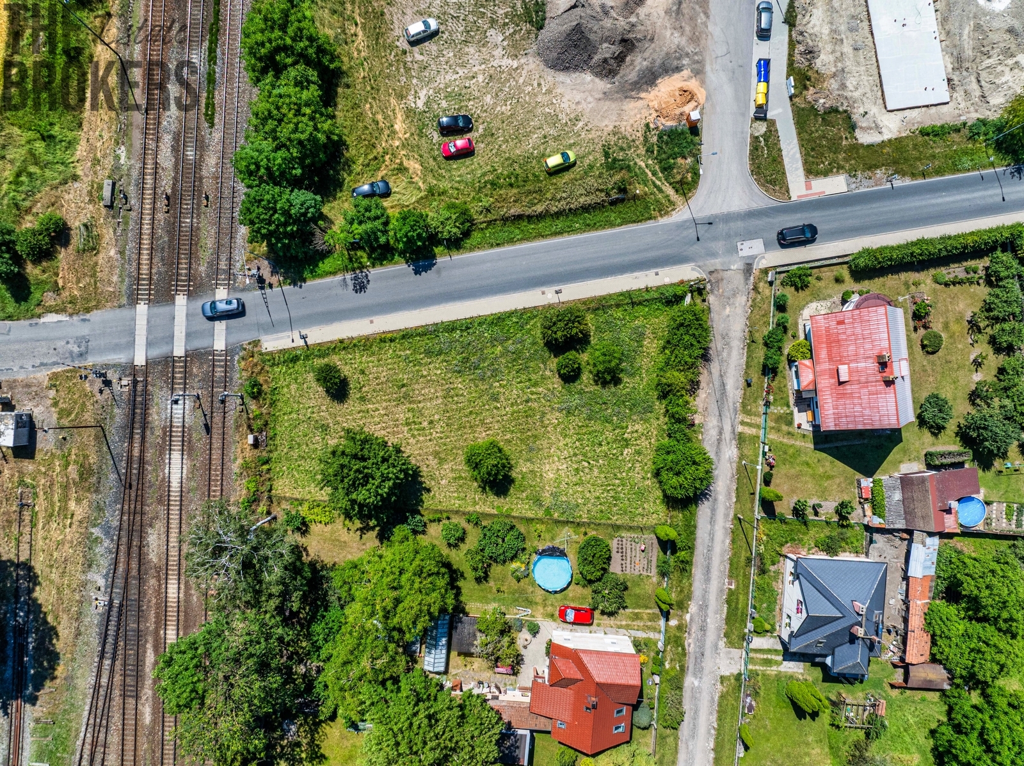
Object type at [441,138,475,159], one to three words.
car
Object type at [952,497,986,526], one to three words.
swimming pool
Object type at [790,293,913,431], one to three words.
house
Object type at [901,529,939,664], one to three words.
shed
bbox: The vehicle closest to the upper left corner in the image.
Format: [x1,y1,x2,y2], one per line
[203,299,245,317]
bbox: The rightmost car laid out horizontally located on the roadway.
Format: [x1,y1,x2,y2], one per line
[776,224,817,246]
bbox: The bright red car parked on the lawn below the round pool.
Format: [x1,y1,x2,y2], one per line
[558,605,594,624]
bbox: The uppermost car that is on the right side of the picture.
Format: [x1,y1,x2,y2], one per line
[754,2,773,38]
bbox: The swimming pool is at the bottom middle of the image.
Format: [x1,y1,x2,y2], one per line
[532,545,572,592]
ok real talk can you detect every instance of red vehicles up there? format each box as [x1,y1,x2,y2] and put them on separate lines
[441,138,475,159]
[558,605,594,624]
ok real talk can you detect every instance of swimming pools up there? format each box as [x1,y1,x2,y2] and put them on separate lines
[532,545,572,592]
[952,497,986,526]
